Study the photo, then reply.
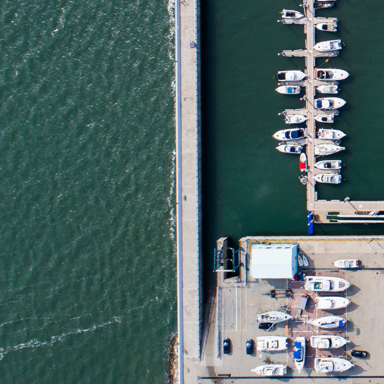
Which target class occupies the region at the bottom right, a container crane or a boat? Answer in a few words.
boat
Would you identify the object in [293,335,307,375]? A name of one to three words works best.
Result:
boat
